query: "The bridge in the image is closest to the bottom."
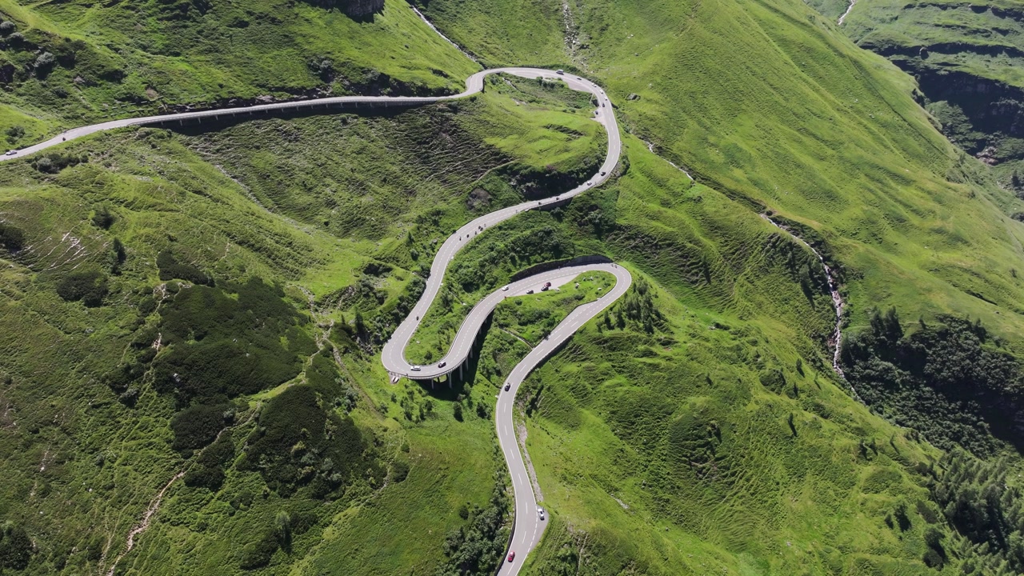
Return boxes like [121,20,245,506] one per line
[400,301,498,389]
